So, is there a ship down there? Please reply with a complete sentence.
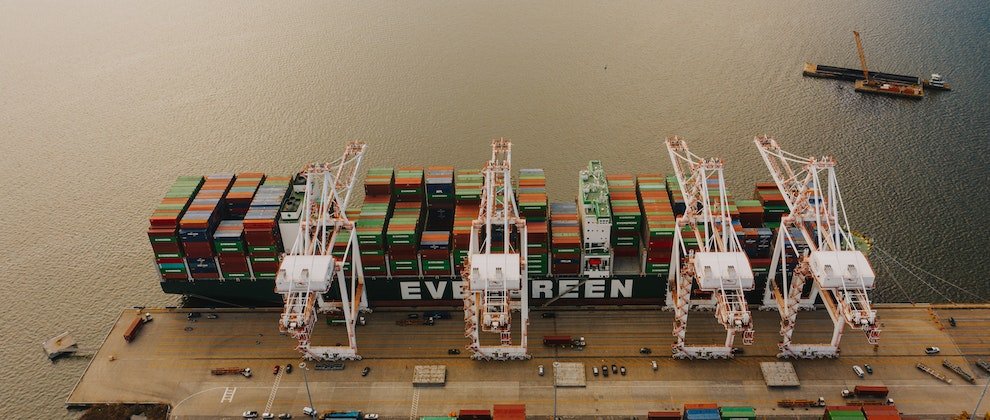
Yes, you can see a ship in this photo.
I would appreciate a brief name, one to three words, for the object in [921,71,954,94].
boat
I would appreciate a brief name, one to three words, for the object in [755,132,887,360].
container crane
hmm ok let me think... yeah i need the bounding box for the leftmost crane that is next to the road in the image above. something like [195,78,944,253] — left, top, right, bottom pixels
[269,137,368,363]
